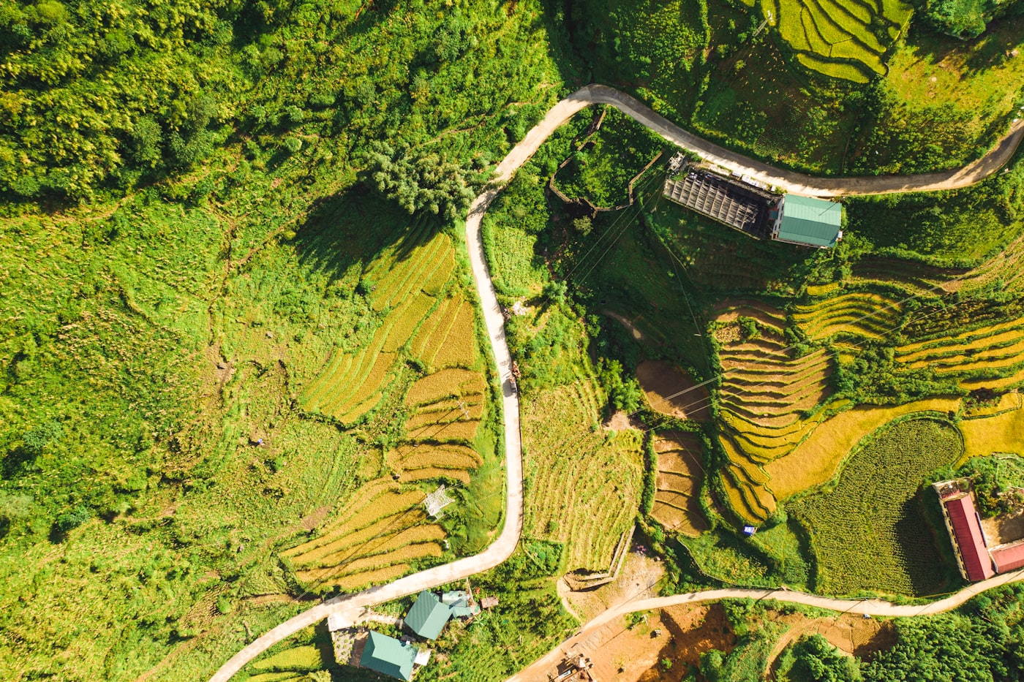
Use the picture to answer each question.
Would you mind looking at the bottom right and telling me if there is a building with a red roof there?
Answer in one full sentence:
Yes, you'll find a building with a red roof at the bottom right.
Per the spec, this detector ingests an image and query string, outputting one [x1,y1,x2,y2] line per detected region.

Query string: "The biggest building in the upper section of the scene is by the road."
[761,194,843,251]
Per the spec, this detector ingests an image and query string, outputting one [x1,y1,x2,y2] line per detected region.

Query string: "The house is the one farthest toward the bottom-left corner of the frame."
[360,629,420,681]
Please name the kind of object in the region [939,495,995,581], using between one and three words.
building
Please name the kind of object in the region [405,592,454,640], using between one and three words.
house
